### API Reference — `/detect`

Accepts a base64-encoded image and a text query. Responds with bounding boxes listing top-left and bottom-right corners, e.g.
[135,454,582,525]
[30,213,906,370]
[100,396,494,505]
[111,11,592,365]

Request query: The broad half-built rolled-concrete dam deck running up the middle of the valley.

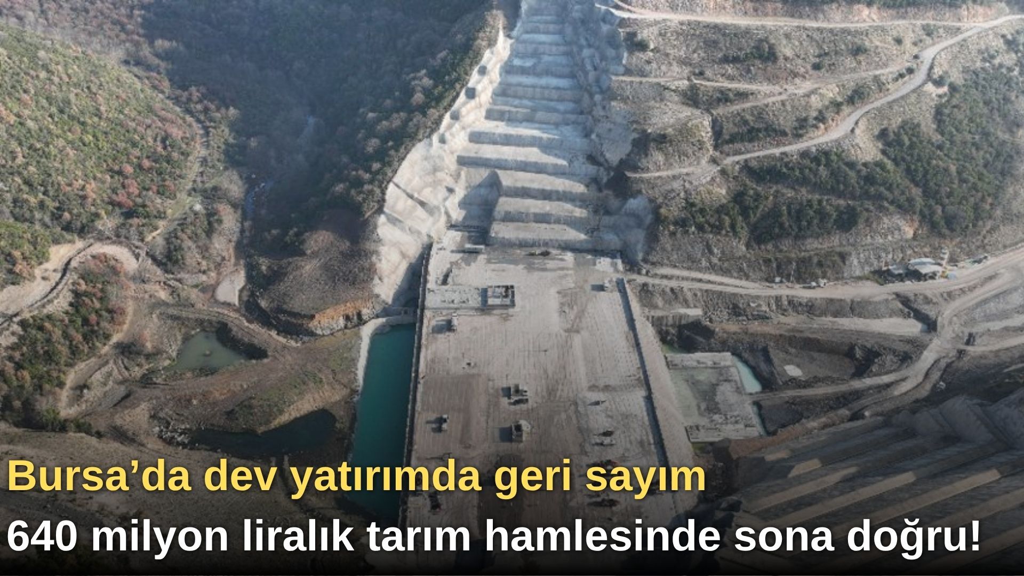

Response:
[397,247,712,576]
